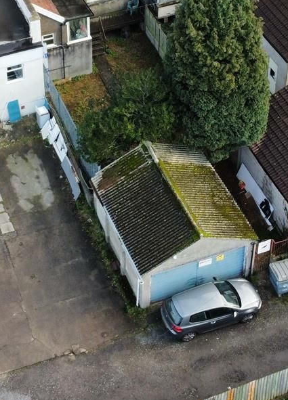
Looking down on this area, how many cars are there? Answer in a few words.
1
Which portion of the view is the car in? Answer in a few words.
bottom right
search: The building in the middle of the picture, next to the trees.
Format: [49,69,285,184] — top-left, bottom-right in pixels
[85,142,260,309]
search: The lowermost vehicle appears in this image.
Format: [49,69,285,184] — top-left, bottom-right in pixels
[155,272,264,341]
